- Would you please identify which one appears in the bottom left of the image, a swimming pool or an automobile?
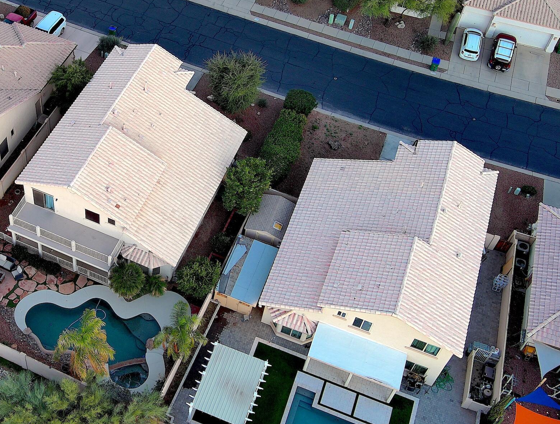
swimming pool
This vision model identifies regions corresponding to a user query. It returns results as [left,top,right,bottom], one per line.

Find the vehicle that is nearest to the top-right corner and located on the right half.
[485,34,519,77]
